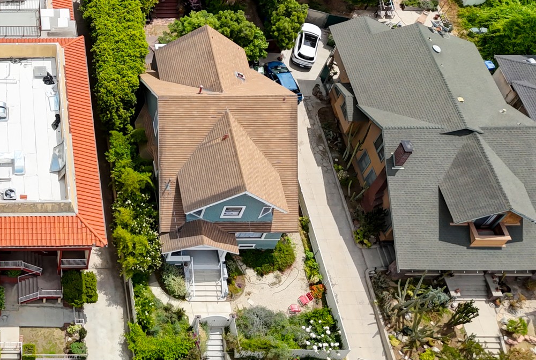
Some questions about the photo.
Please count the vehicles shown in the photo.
2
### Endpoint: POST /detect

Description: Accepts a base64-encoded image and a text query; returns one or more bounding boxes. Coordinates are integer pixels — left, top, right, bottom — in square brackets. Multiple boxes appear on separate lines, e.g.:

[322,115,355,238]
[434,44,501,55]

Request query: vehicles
[258,60,310,108]
[291,25,323,74]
